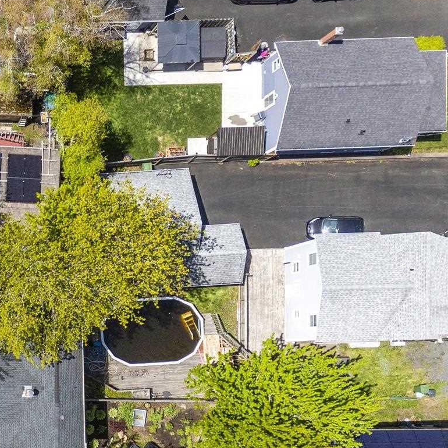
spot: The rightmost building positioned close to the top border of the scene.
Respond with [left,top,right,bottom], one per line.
[258,22,448,157]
